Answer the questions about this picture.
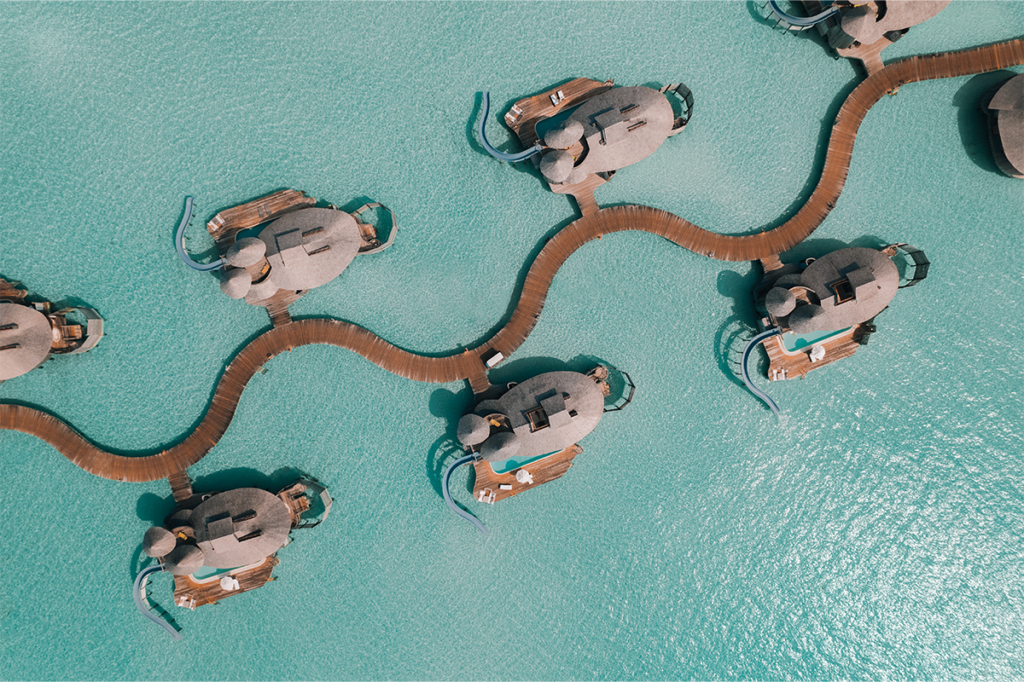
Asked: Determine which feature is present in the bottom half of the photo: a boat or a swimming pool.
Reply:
swimming pool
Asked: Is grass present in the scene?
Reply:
No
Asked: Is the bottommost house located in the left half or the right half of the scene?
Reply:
left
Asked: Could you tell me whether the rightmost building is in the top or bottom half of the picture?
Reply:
top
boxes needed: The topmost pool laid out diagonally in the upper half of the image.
[534,103,587,144]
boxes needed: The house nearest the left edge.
[0,287,86,388]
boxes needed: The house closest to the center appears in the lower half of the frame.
[458,367,615,503]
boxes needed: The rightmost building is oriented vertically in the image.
[973,68,1024,181]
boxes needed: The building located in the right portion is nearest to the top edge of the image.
[798,0,955,78]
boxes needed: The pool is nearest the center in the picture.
[488,447,568,474]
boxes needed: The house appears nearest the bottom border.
[141,471,318,610]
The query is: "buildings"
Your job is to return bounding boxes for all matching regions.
[0,287,86,388]
[798,0,955,78]
[458,367,615,503]
[973,68,1024,181]
[503,79,682,221]
[141,471,318,610]
[202,191,383,330]
[749,248,902,383]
